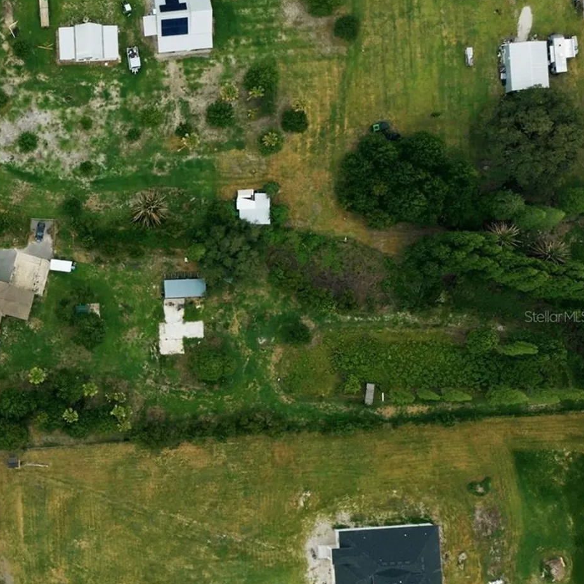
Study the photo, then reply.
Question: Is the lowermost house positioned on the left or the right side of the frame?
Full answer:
The lowermost house appears in the right half of the scene.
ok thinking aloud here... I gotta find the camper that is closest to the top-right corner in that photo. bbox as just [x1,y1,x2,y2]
[553,32,584,71]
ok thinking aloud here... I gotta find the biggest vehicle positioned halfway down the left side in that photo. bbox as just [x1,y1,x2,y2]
[50,258,81,271]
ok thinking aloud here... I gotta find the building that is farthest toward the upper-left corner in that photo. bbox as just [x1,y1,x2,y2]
[58,25,119,65]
